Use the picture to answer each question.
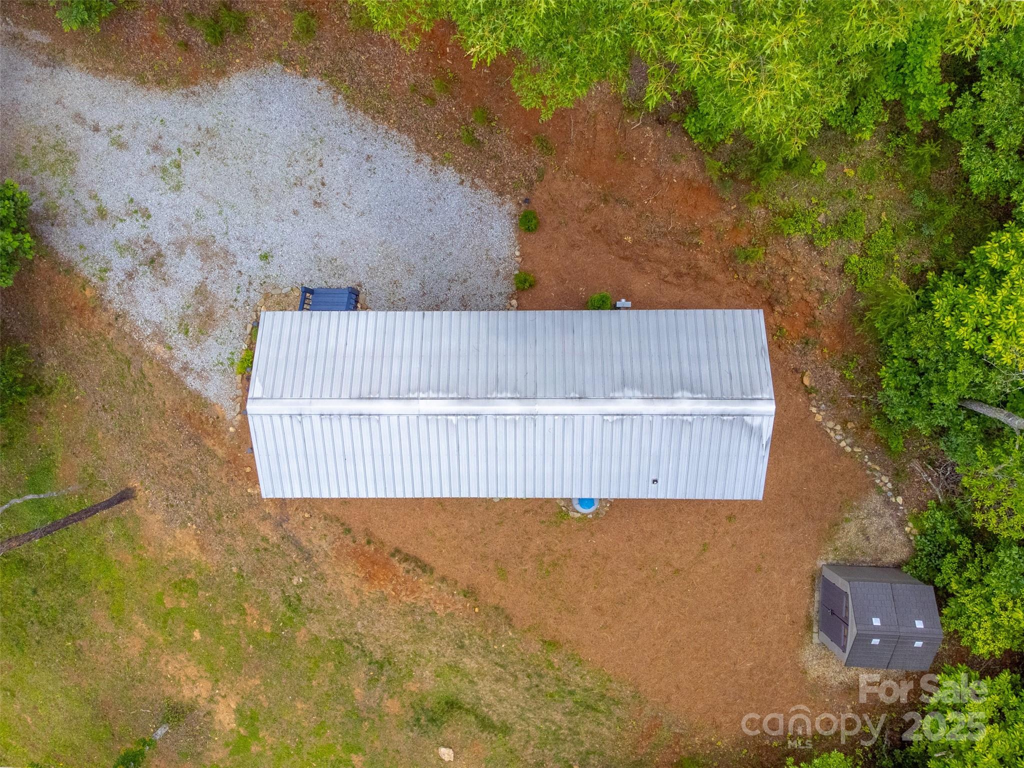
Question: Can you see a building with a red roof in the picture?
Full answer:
No, no building with a red roof is visible in the view.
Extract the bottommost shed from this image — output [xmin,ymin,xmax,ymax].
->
[818,565,952,669]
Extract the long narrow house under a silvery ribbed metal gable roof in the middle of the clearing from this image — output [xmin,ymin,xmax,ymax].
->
[245,310,778,498]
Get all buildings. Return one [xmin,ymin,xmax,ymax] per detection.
[245,310,778,498]
[818,565,952,669]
